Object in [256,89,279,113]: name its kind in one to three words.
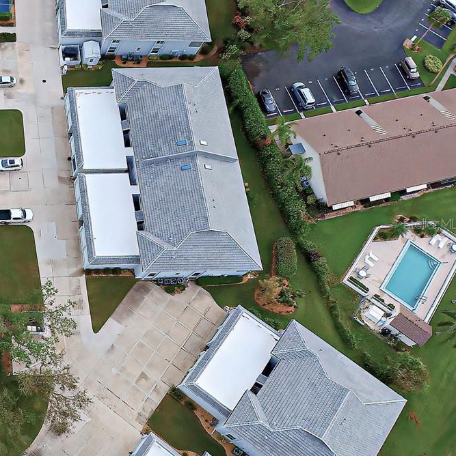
car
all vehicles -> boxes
[256,89,279,113]
[439,0,456,10]
[292,82,317,108]
[335,66,361,93]
[0,208,33,223]
[0,75,17,88]
[398,54,422,79]
[438,4,456,23]
[0,156,23,171]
